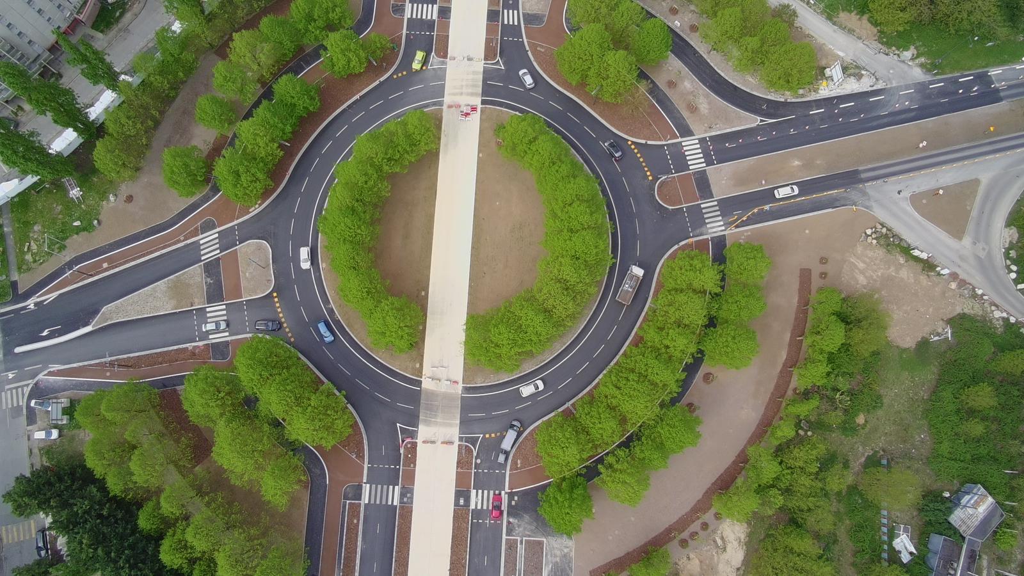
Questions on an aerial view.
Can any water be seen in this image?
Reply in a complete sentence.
No, no water is visible.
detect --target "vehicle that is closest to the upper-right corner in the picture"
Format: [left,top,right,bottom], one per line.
[774,183,799,197]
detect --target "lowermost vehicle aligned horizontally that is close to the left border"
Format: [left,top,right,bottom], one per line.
[29,428,57,441]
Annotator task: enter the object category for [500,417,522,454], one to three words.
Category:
vehicle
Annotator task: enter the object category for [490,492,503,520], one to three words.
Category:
vehicle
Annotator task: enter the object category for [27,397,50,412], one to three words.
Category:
car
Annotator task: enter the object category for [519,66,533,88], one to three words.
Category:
car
